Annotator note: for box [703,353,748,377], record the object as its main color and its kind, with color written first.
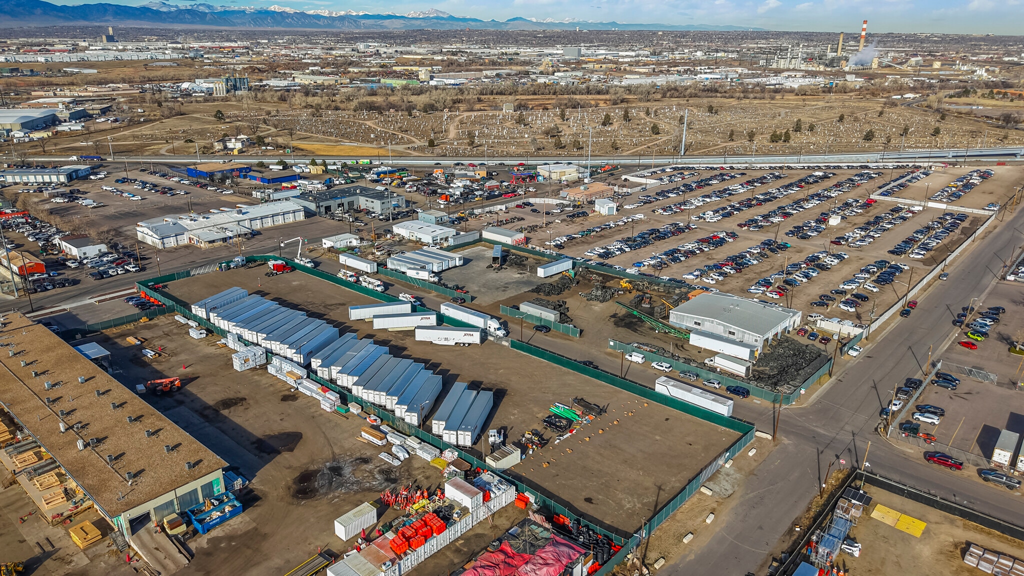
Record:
white truck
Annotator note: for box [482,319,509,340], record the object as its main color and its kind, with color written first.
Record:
white truck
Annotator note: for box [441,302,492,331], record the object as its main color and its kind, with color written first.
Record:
white trailer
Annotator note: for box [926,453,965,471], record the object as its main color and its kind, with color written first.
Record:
red vehicle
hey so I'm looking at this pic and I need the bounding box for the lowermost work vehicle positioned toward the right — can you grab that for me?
[838,535,862,554]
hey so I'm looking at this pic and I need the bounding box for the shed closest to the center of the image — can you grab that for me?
[484,226,526,244]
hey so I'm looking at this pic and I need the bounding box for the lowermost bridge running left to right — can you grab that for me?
[862,140,1024,160]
